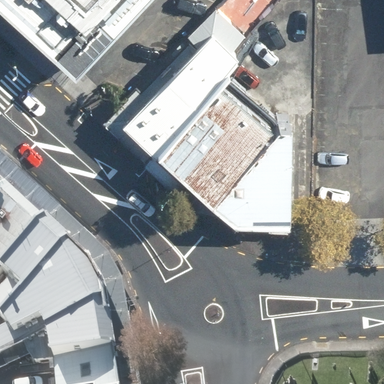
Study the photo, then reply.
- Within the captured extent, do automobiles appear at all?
Yes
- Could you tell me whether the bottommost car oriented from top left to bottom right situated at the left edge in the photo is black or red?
red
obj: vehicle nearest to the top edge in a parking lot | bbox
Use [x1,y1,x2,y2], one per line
[174,0,210,18]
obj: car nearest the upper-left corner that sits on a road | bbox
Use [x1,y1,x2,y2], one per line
[18,89,48,117]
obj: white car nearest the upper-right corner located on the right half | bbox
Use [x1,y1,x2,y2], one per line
[252,41,280,68]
